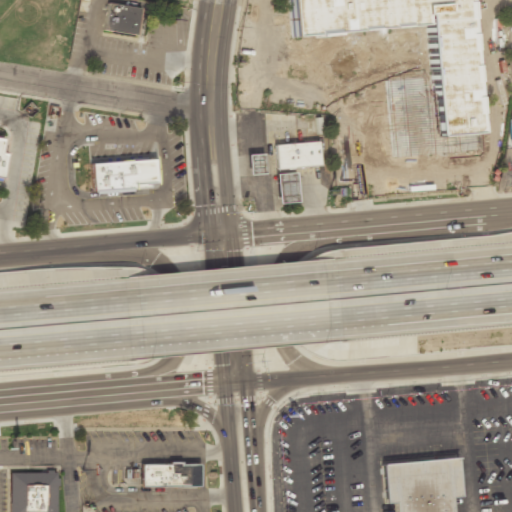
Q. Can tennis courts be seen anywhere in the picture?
No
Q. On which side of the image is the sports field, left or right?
left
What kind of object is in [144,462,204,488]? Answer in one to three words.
building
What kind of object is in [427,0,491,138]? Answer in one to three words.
building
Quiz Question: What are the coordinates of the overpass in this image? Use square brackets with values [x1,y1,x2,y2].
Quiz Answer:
[150,259,303,356]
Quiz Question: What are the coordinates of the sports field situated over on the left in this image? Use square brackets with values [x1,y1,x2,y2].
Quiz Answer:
[0,0,80,70]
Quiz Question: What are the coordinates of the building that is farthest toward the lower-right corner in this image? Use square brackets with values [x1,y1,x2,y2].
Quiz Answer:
[386,458,466,512]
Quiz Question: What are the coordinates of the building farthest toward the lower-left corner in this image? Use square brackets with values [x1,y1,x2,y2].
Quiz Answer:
[12,468,60,512]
